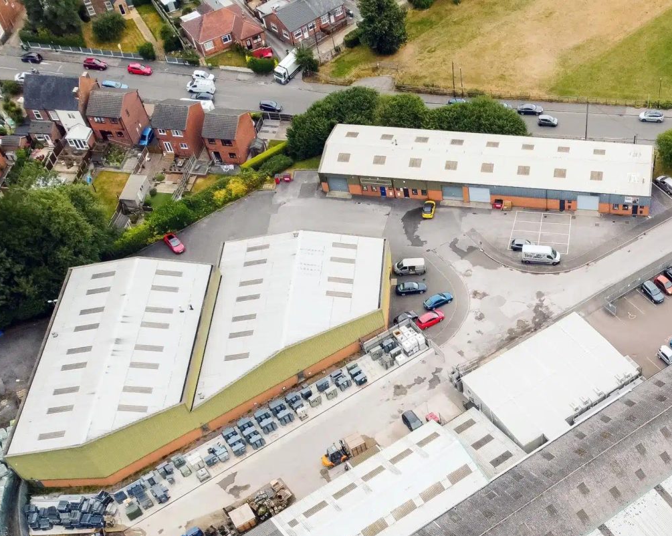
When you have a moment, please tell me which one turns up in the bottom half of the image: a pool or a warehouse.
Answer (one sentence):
The feature located in the bottom half of the image is a warehouse.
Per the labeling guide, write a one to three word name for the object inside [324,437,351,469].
work vehicle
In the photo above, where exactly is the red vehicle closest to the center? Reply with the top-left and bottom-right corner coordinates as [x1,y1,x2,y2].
[416,313,444,329]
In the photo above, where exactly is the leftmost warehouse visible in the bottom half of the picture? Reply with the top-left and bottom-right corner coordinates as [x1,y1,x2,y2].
[5,256,216,481]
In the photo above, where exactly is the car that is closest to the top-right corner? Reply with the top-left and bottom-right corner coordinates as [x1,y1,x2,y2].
[639,109,664,123]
